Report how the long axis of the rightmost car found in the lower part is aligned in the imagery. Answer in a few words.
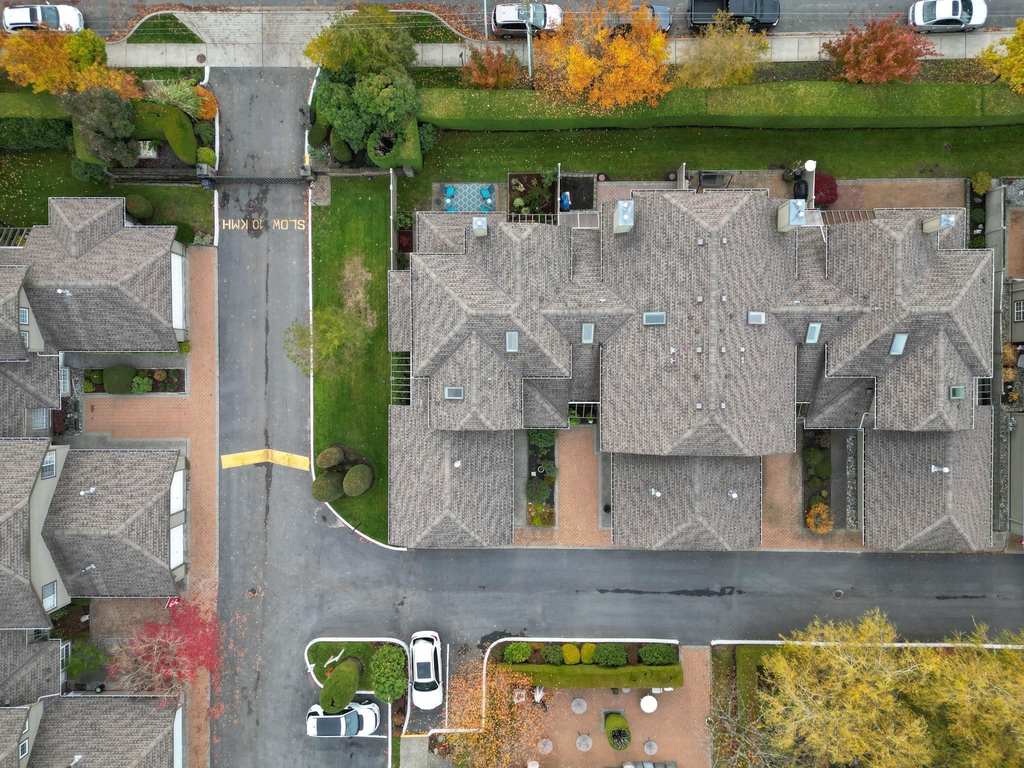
up and down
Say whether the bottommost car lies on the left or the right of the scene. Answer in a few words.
left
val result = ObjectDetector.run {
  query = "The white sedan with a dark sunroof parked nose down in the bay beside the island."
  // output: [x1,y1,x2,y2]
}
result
[407,631,445,708]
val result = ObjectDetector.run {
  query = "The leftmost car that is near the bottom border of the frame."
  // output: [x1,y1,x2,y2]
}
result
[308,697,381,742]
